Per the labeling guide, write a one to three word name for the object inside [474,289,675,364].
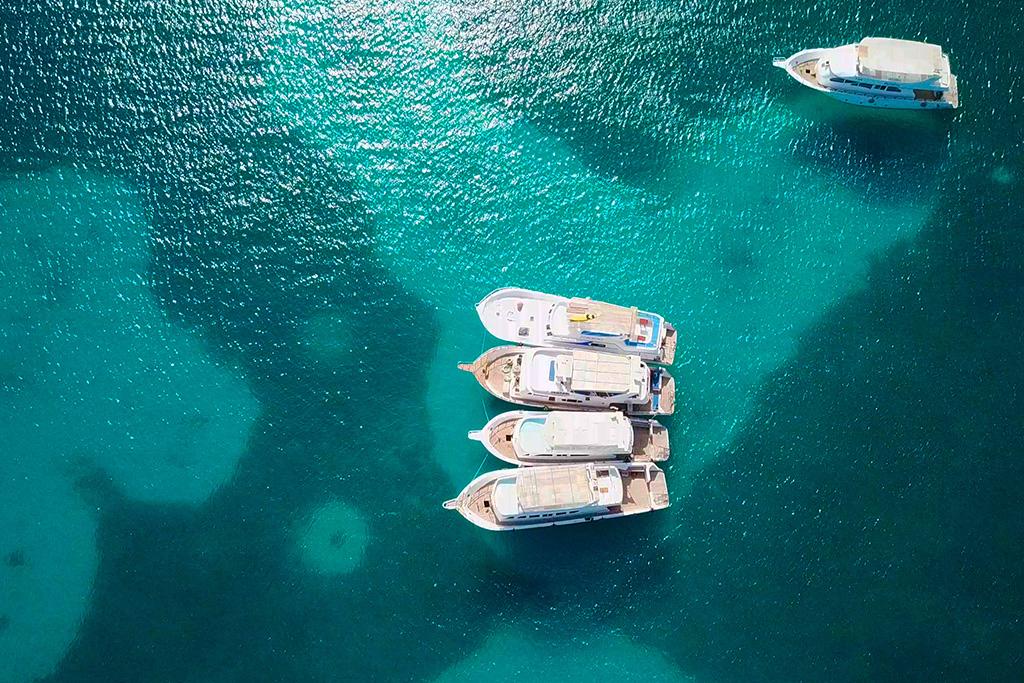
boat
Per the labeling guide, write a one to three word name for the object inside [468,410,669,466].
boat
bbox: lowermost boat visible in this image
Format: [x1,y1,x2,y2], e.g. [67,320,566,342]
[441,458,670,529]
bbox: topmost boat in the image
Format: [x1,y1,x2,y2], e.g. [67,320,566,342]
[772,37,959,110]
